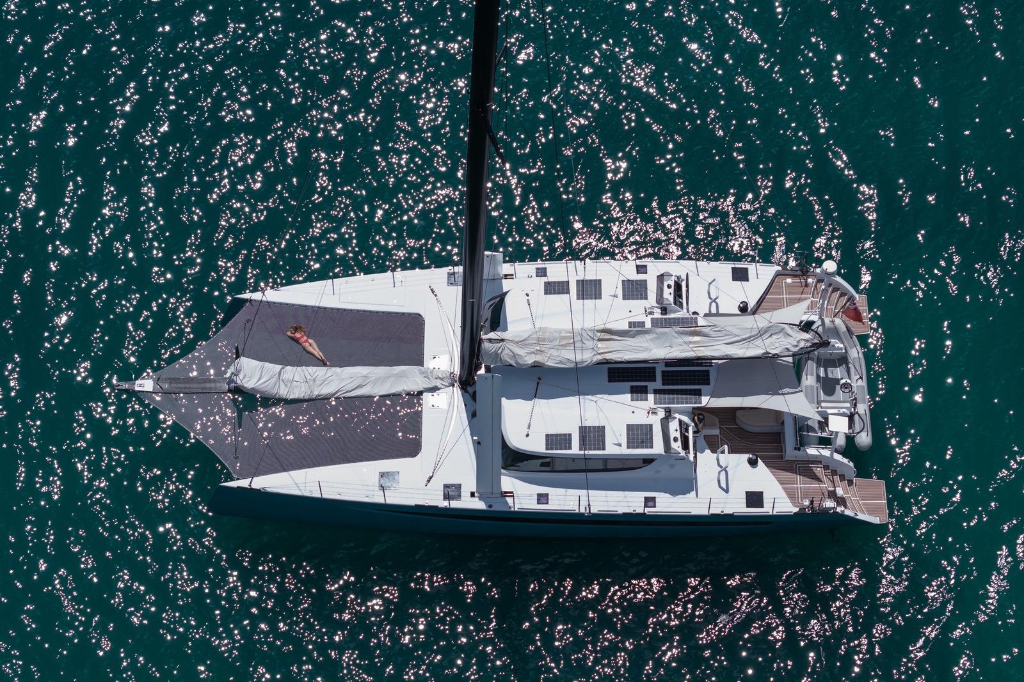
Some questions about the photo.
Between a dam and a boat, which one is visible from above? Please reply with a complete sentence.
This aerial view contains a boat.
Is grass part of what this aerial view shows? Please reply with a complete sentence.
No, the picture contains no grass.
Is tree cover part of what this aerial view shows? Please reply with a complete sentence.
No, the scene doesn't show any tree cover.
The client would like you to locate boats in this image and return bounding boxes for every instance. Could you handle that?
[803,314,875,470]
[116,0,890,539]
